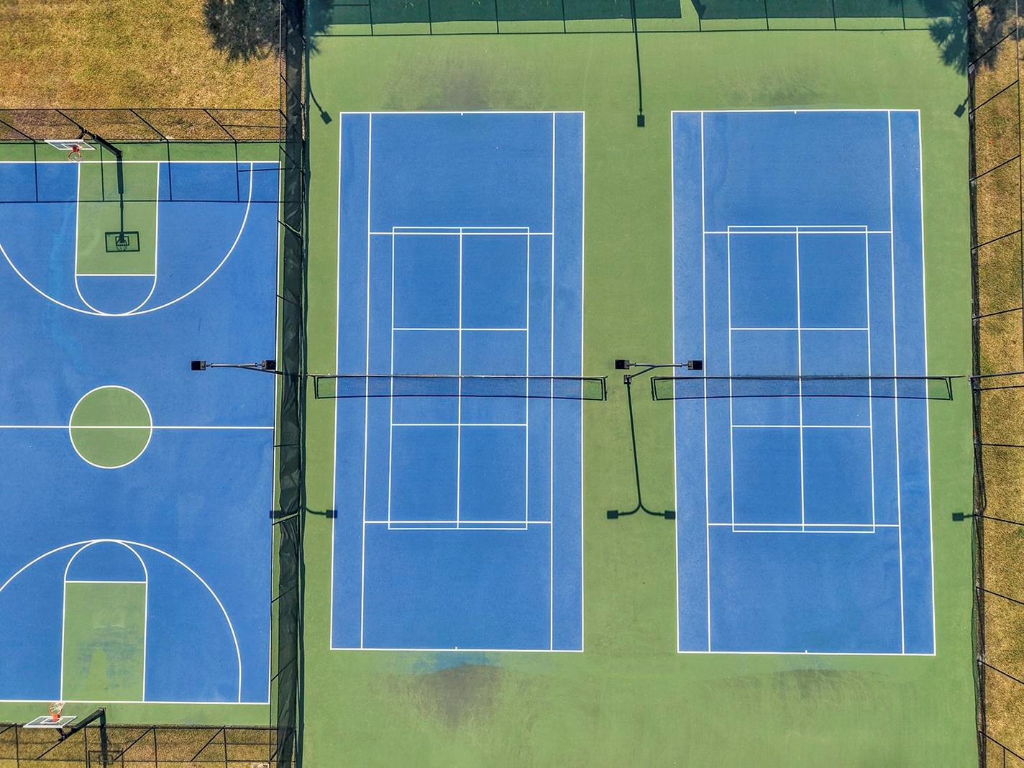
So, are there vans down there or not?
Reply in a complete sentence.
No, there's no van here.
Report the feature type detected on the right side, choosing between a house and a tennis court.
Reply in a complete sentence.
You can see a tennis court on the right side.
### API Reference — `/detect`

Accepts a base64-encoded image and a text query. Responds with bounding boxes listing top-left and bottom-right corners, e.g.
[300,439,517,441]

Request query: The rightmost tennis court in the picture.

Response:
[672,111,935,654]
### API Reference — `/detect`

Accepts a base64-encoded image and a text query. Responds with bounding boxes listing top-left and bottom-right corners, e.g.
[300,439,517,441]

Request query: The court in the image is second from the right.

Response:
[331,113,584,652]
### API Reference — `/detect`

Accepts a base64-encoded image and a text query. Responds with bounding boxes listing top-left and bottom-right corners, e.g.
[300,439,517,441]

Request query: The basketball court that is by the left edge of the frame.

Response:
[0,161,281,705]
